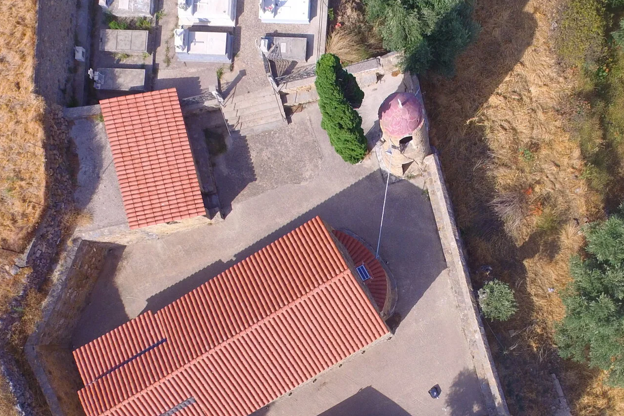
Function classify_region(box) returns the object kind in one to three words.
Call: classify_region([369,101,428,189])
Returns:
building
